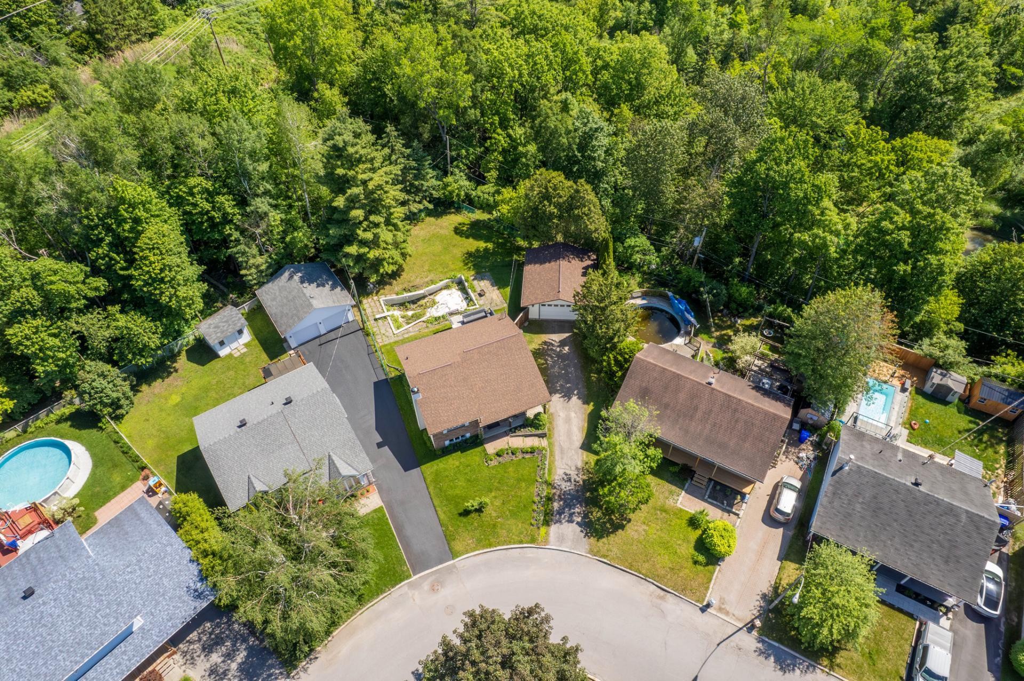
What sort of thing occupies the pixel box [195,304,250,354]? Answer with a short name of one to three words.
shed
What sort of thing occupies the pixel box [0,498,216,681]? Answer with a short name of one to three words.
house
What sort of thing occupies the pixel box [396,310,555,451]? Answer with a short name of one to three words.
house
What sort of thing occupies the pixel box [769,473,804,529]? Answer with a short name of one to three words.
car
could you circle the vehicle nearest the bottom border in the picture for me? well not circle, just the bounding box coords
[910,626,955,681]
